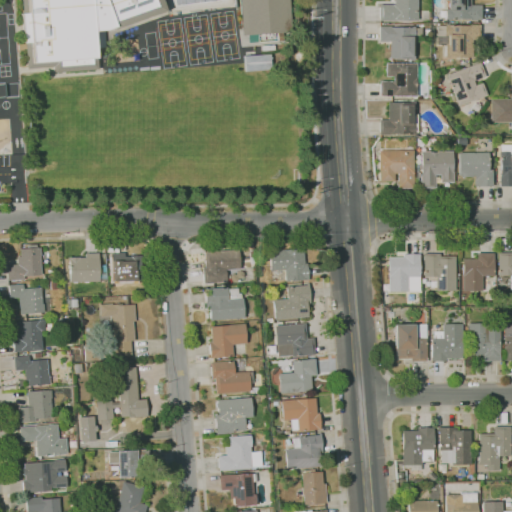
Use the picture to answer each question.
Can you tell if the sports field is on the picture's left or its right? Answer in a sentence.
The sports field is on the left side of the image.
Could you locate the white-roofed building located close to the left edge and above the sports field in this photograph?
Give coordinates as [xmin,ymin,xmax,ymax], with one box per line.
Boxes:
[24,0,120,66]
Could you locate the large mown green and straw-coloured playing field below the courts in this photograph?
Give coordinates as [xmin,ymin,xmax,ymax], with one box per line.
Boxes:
[20,70,300,196]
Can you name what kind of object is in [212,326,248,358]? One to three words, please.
house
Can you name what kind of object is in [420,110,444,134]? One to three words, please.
swimming pool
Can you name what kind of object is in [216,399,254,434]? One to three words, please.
house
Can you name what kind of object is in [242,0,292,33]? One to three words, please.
building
